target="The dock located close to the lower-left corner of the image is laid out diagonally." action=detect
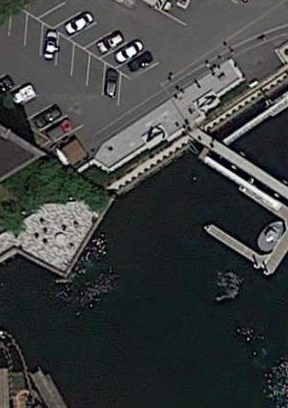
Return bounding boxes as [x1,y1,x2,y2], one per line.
[30,368,68,408]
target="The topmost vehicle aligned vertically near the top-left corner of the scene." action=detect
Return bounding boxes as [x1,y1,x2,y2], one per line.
[42,29,57,59]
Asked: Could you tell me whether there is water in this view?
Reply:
Yes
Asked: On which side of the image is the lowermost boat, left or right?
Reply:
right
